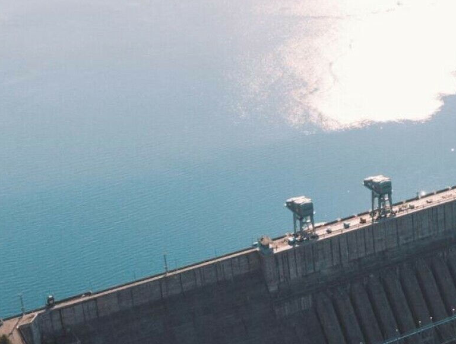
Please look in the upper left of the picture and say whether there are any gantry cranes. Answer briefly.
No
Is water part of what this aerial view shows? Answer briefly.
Yes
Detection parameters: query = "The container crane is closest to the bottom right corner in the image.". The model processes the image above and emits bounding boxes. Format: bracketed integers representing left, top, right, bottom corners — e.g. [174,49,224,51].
[360,176,393,221]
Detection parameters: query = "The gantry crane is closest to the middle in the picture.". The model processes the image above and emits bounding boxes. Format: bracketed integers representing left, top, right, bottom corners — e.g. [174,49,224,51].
[280,199,316,244]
